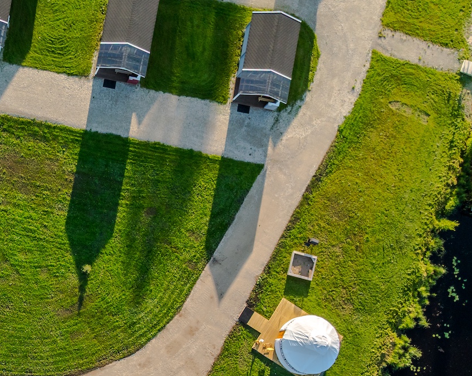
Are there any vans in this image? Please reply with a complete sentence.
No, there's no van here.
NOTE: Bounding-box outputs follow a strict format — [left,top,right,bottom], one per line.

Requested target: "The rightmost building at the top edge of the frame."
[231,8,302,112]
